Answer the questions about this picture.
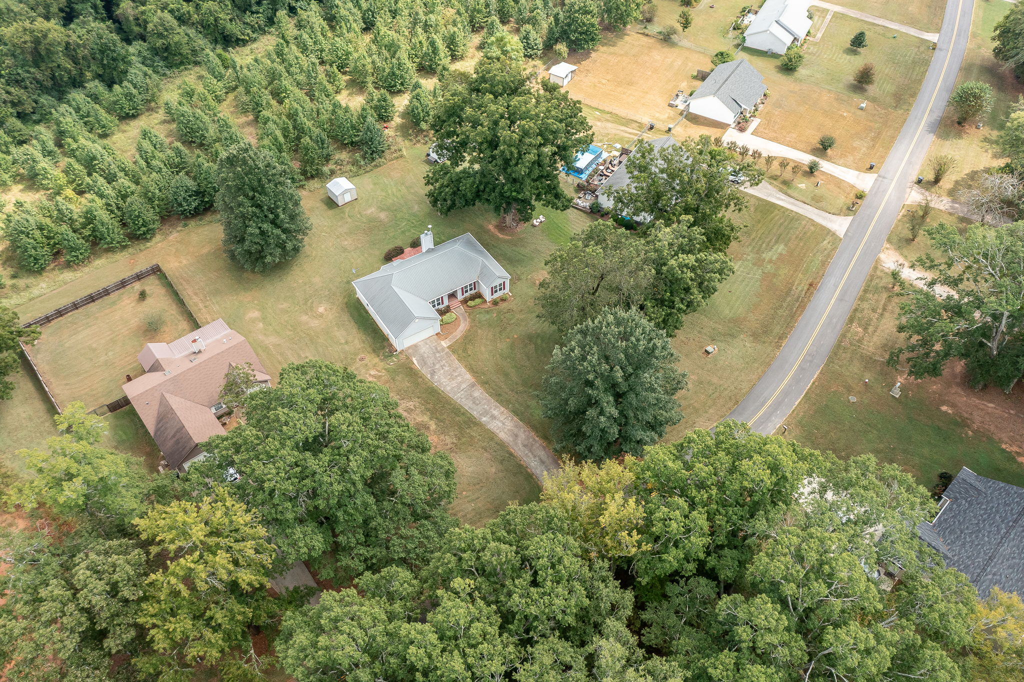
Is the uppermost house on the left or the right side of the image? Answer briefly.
right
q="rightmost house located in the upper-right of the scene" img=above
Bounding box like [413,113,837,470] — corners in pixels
[743,0,814,52]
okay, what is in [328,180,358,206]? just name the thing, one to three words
shed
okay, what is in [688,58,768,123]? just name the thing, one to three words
house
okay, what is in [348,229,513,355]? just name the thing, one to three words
house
